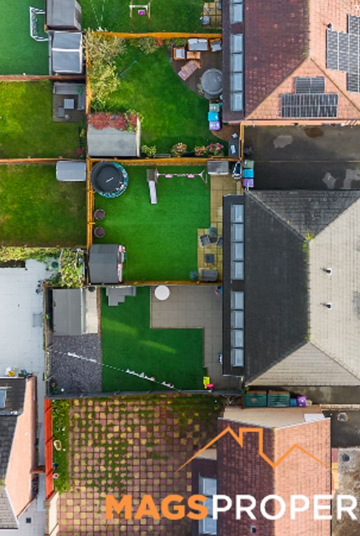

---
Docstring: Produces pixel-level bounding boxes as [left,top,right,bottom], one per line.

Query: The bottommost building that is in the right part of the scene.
[190,403,333,536]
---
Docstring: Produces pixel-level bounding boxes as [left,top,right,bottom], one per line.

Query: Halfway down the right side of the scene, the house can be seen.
[221,188,360,387]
